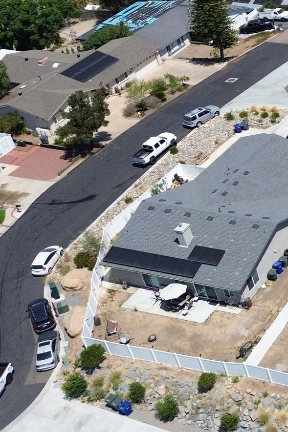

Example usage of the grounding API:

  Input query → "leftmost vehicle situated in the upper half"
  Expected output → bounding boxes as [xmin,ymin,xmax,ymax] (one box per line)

[129,135,179,167]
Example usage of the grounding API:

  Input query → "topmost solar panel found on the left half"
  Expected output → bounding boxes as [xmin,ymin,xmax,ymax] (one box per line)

[65,54,116,79]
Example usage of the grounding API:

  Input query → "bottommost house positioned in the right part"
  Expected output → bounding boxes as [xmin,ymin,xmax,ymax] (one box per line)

[99,130,288,311]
